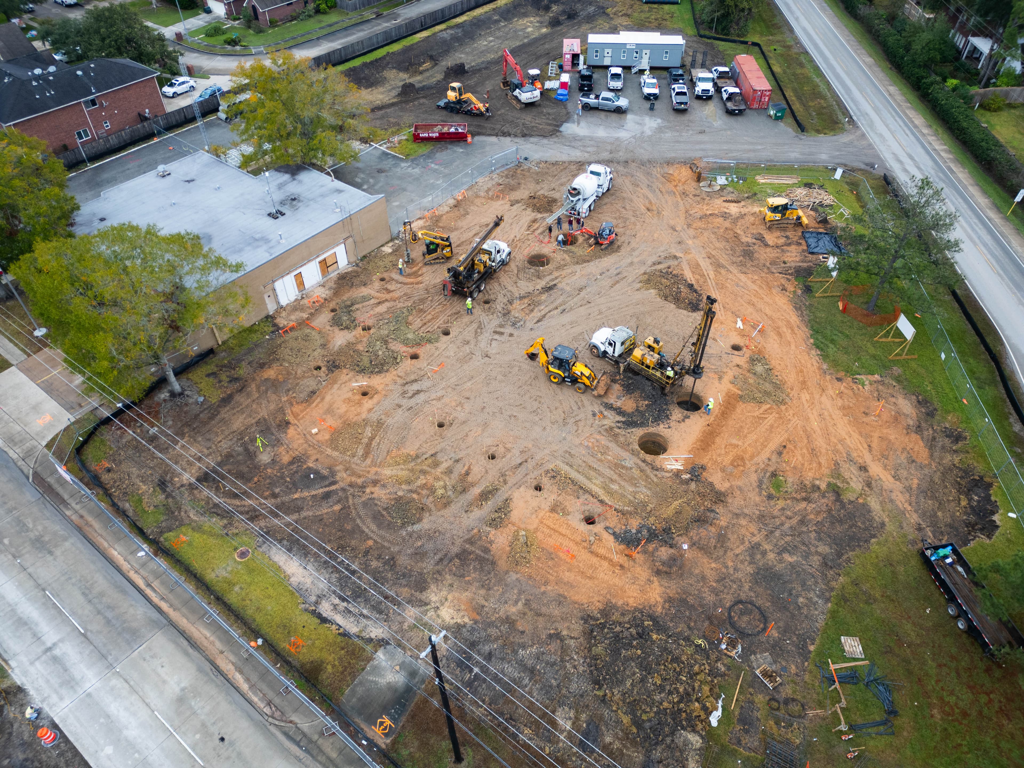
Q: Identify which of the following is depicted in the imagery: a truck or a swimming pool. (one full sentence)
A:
I can see a truck in this picture.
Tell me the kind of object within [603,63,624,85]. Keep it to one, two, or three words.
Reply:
truck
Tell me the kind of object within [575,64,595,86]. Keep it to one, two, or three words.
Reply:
vehicle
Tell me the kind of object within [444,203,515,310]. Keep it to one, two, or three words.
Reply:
truck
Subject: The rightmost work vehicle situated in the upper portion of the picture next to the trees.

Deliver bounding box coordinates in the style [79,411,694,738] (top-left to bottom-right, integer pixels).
[759,190,813,230]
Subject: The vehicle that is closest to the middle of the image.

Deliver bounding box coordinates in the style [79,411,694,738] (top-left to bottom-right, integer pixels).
[522,330,620,403]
